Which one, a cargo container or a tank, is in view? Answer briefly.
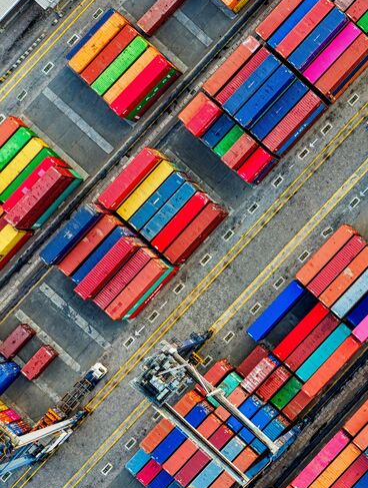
cargo container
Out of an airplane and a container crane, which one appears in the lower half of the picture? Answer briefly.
container crane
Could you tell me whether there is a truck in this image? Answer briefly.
Yes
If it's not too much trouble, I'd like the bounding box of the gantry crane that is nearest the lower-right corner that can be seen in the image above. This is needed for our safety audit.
[119,329,311,488]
